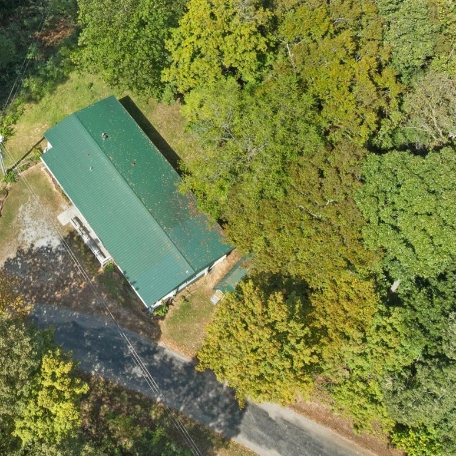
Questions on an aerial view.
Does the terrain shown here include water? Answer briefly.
No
